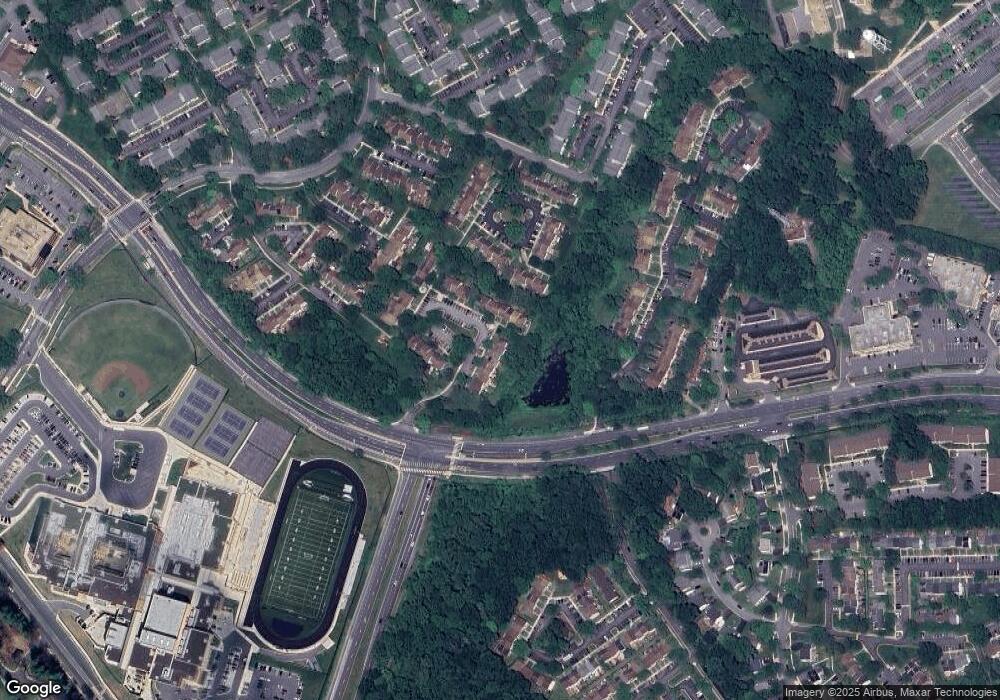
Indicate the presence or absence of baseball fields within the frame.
Yes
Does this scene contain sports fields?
Yes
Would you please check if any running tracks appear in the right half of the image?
No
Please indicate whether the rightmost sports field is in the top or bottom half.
bottom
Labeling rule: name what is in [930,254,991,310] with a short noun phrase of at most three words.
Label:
building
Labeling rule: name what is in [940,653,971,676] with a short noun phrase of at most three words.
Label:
house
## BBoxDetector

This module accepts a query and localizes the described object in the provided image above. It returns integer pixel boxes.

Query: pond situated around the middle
[519,350,569,406]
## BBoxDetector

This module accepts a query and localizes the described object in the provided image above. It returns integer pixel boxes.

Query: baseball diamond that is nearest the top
[56,299,195,421]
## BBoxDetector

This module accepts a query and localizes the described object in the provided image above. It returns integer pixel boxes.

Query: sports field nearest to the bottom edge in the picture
[263,471,354,638]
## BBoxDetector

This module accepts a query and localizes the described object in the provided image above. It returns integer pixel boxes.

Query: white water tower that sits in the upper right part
[864,27,896,57]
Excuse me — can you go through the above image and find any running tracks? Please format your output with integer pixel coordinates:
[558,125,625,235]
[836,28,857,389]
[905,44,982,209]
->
[245,459,365,649]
